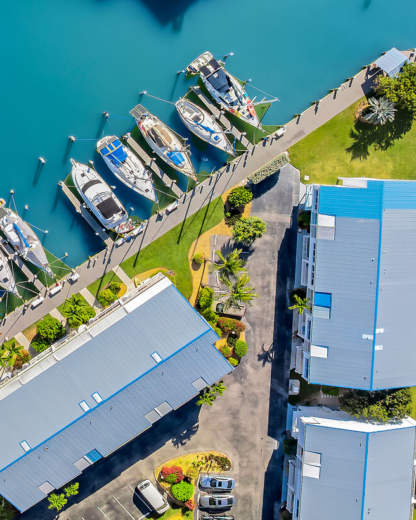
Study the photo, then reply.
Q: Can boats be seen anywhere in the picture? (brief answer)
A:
Yes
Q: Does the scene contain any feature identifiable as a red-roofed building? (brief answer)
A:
No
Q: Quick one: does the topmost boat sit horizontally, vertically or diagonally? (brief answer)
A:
diagonally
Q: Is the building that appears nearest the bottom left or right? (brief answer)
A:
right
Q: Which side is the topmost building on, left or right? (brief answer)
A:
right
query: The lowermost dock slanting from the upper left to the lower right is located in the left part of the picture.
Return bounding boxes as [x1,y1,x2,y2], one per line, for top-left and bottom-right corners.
[0,233,48,291]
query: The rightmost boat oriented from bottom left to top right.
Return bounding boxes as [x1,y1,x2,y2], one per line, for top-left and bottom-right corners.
[183,51,212,76]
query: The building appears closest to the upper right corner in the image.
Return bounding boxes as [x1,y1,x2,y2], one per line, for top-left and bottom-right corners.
[367,47,410,81]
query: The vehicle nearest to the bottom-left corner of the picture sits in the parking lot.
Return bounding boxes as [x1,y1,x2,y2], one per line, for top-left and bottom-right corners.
[138,477,169,515]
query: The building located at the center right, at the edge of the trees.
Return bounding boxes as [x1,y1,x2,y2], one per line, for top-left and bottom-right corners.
[288,178,416,392]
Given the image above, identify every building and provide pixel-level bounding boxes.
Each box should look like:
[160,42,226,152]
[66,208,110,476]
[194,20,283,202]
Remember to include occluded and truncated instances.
[288,178,416,392]
[281,398,416,520]
[0,275,234,513]
[367,47,410,81]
